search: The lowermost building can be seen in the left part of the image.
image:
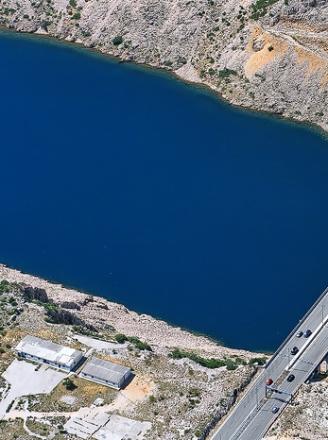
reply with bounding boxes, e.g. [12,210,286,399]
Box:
[79,356,132,389]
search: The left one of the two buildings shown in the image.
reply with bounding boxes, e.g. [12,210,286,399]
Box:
[13,335,84,373]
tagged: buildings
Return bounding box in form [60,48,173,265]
[79,356,132,389]
[13,335,84,373]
